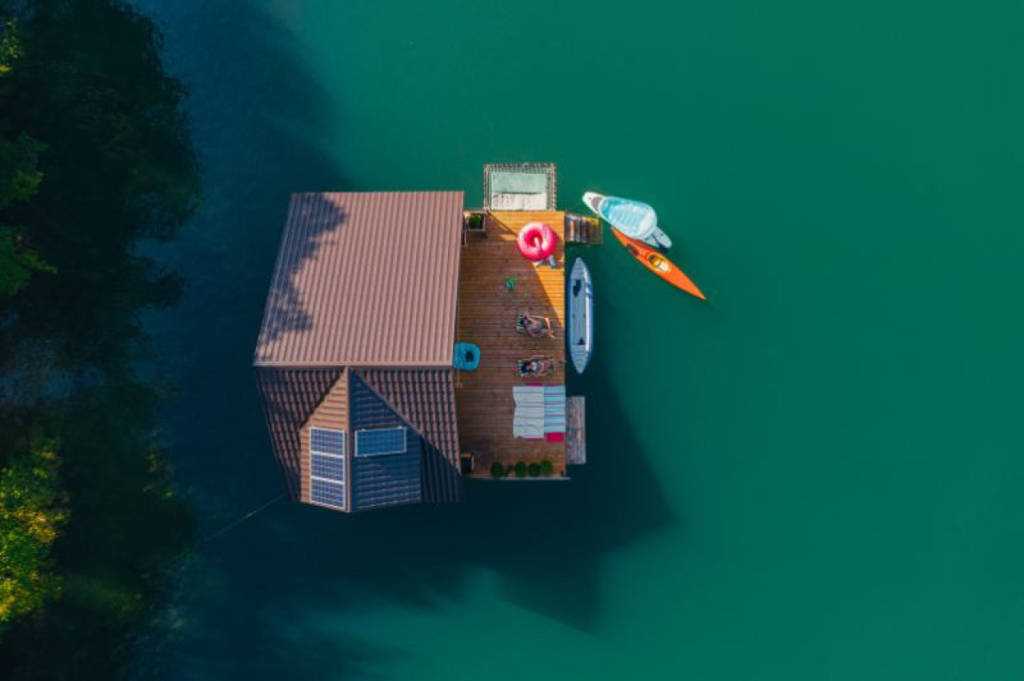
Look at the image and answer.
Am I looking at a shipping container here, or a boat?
boat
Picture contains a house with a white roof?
No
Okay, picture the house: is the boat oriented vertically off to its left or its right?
right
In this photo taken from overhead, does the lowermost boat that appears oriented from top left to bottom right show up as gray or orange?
orange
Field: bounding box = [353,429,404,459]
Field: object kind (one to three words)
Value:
solar panel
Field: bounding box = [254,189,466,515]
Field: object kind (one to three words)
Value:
house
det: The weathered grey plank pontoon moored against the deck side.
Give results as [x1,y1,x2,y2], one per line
[567,397,586,465]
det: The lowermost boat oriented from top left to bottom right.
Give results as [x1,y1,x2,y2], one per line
[612,228,706,300]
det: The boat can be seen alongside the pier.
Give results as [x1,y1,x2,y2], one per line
[567,258,594,374]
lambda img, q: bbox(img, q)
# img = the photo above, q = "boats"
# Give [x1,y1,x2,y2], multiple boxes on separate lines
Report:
[567,258,594,374]
[599,197,658,233]
[612,228,706,300]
